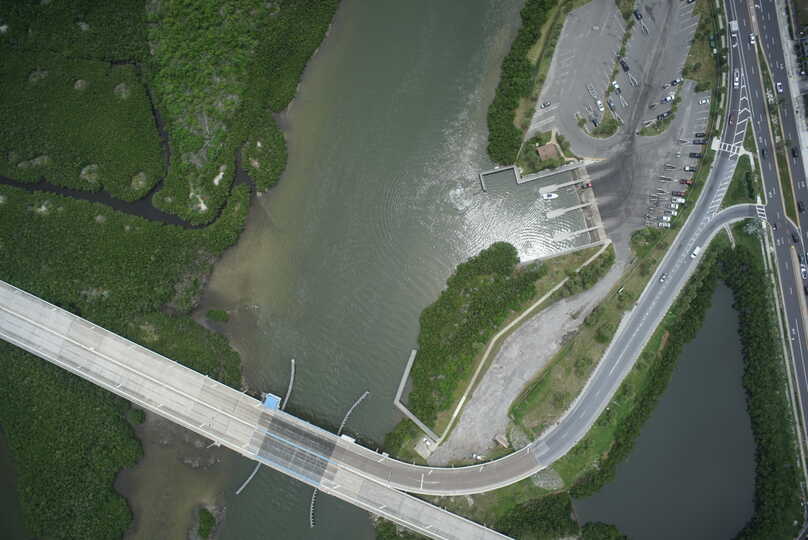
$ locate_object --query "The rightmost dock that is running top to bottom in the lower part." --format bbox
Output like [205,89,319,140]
[395,348,439,443]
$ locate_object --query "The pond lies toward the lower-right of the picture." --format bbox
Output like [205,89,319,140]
[574,281,757,540]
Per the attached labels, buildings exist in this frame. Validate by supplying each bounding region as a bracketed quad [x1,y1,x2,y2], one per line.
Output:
[264,391,282,410]
[539,141,559,159]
